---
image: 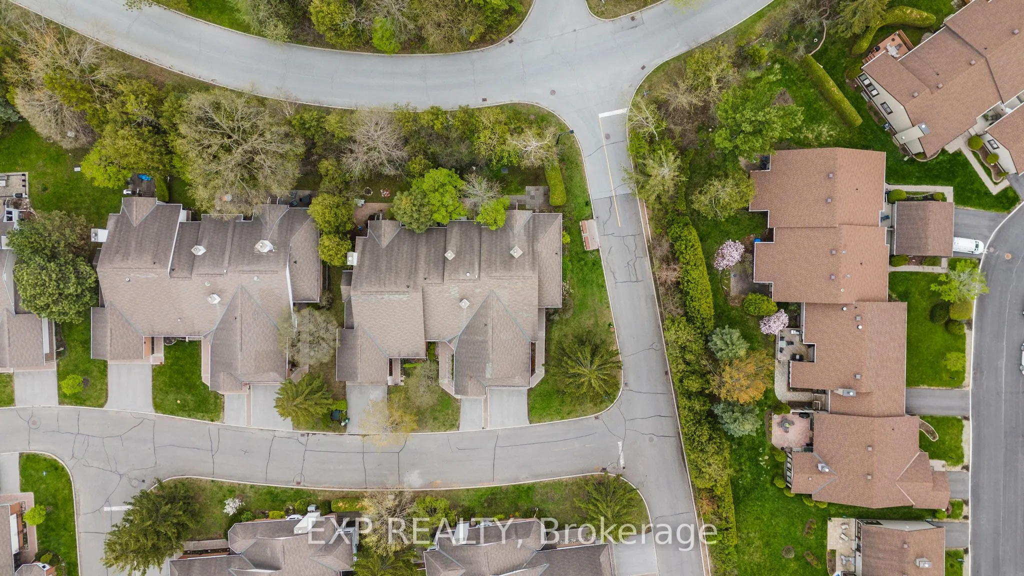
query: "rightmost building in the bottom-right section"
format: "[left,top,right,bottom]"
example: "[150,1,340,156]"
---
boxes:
[854,519,946,576]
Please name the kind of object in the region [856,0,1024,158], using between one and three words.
house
